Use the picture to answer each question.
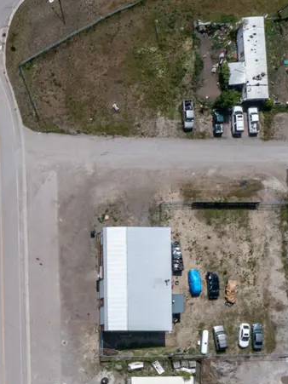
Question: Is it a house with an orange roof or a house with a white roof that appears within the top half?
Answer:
house with a white roof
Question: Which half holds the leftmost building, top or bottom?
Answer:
bottom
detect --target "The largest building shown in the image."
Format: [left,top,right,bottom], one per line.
[96,222,172,331]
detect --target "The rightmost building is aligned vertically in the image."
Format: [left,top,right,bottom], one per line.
[234,16,269,106]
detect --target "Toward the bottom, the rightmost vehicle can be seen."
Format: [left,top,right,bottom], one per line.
[250,324,264,349]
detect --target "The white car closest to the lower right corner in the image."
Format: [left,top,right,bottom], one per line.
[236,323,251,348]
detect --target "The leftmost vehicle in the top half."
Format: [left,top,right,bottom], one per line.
[181,100,196,131]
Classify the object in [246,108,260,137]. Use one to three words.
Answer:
vehicle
